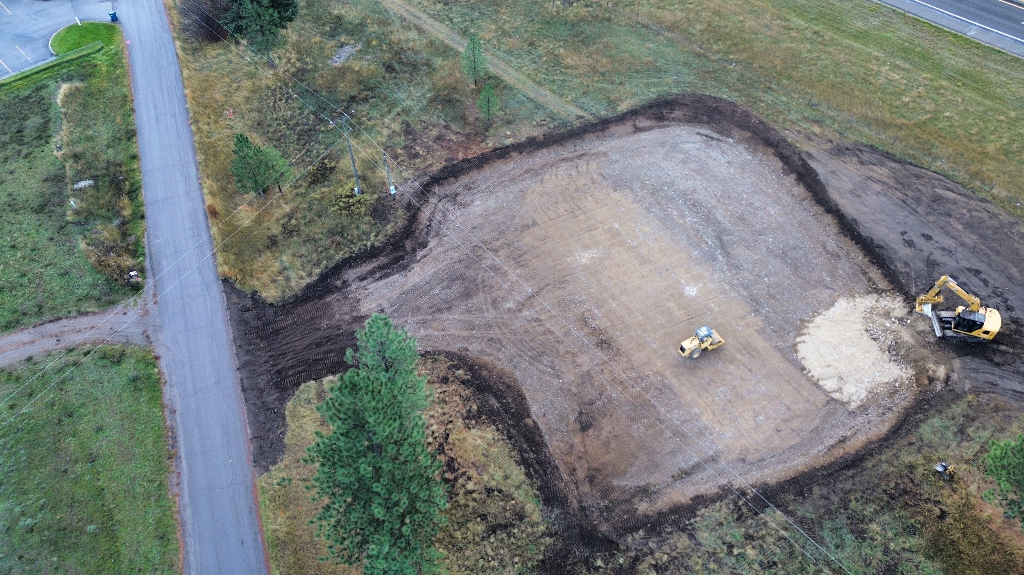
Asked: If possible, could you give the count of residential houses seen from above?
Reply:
0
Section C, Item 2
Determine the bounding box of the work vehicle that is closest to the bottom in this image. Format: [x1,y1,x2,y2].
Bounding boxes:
[679,326,727,363]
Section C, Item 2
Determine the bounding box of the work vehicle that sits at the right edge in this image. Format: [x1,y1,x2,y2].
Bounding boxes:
[912,274,1004,341]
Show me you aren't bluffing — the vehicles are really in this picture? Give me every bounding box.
[912,274,1004,341]
[679,326,727,363]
